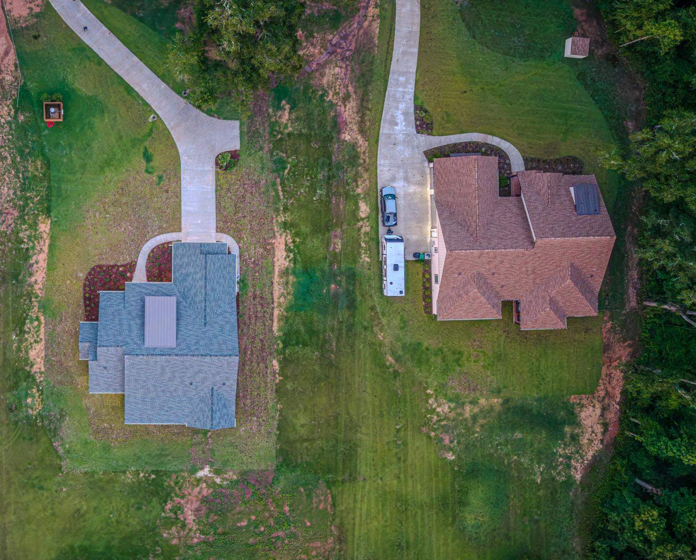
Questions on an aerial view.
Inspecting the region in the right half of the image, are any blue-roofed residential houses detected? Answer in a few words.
No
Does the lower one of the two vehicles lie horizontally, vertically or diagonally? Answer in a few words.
vertically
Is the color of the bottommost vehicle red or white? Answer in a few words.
white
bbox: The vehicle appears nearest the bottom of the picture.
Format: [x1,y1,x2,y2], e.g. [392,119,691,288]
[381,228,404,297]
